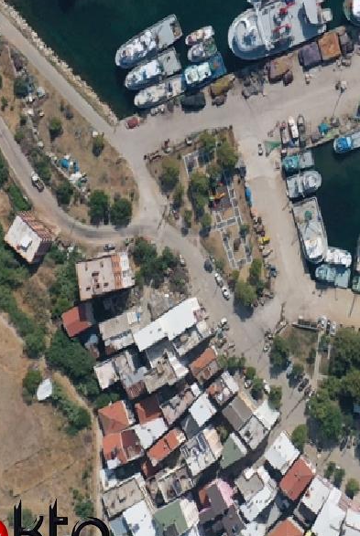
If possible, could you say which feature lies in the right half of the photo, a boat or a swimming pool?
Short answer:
boat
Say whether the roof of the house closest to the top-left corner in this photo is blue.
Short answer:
No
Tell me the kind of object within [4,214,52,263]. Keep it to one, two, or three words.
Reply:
house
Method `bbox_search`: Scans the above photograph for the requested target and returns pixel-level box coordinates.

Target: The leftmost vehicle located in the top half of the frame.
[27,170,47,194]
